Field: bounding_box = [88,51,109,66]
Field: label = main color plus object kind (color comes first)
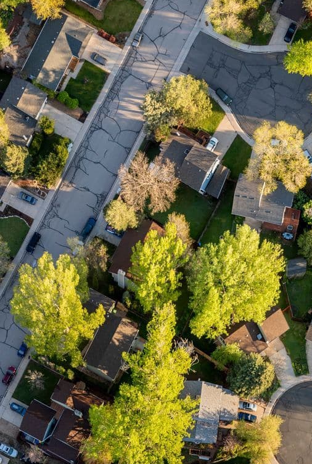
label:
gray car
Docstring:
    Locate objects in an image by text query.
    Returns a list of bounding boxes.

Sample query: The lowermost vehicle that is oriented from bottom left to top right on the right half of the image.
[203,134,221,152]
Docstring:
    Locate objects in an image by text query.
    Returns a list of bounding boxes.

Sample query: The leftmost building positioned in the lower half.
[20,380,106,464]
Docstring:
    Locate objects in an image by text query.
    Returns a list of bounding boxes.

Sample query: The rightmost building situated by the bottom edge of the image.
[184,382,239,444]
